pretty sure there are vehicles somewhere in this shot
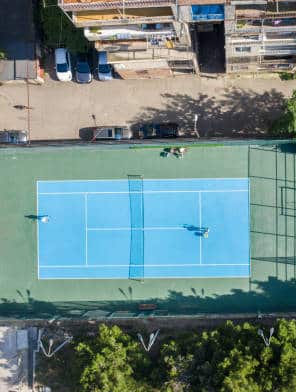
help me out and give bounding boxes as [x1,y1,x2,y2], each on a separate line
[50,48,71,86]
[72,50,92,88]
[94,124,134,143]
[138,121,179,141]
[94,50,114,87]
